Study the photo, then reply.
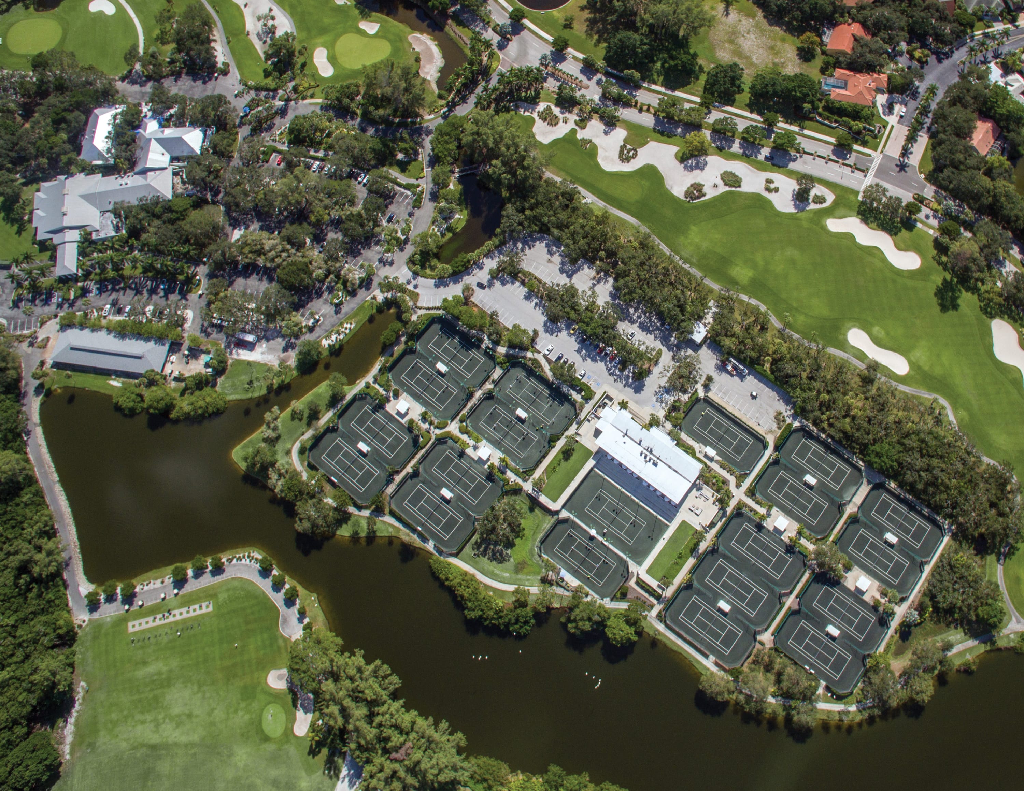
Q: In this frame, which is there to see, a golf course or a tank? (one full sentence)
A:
There is a golf course in the scene.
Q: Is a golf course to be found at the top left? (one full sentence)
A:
Yes, a golf course can be seen at the top left.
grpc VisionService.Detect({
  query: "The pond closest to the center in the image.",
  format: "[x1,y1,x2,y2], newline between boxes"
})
[439,146,503,263]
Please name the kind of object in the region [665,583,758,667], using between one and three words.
tennis court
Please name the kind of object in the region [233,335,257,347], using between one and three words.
vehicle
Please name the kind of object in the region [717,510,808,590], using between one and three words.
tennis court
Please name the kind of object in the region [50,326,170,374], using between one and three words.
barn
